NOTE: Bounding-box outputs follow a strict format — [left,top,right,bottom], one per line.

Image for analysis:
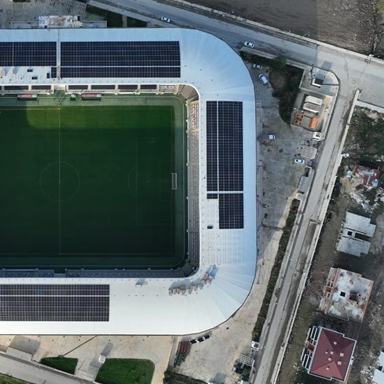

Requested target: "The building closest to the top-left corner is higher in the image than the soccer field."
[38,14,83,27]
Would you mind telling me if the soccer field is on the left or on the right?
left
